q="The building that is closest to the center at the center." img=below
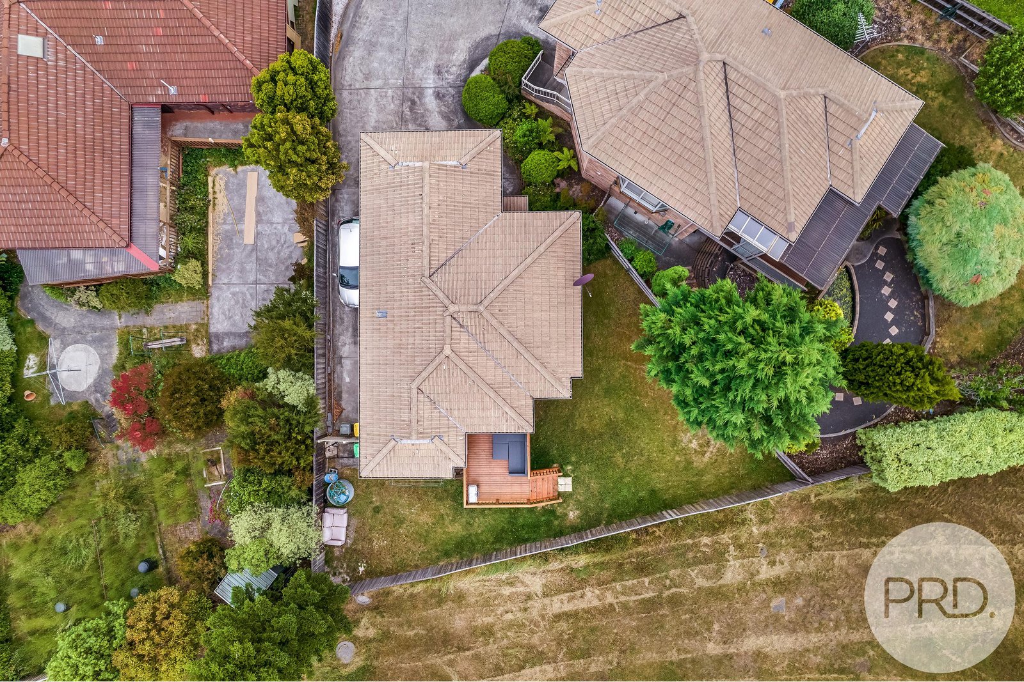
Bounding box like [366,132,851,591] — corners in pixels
[357,127,585,481]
